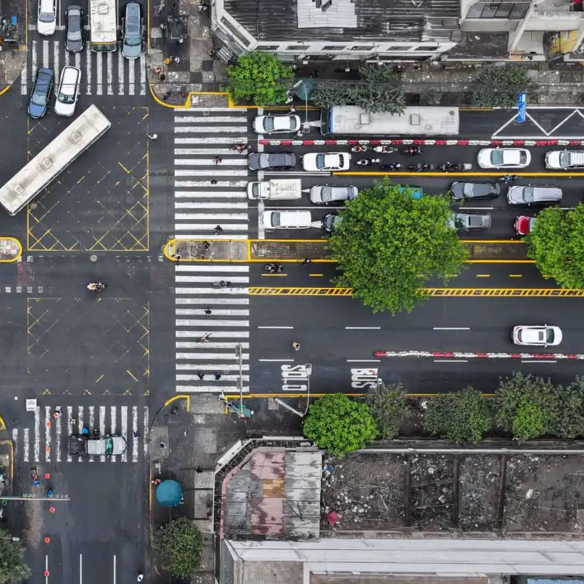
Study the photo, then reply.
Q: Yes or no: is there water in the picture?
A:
No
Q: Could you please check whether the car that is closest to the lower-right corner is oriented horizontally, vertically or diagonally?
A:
horizontally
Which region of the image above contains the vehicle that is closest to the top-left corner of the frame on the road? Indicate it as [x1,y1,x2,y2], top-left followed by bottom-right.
[36,0,59,36]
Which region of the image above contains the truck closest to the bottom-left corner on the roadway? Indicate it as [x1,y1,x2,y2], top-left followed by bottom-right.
[69,434,126,457]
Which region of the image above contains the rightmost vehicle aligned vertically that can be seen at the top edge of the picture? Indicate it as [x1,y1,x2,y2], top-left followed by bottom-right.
[121,0,147,61]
